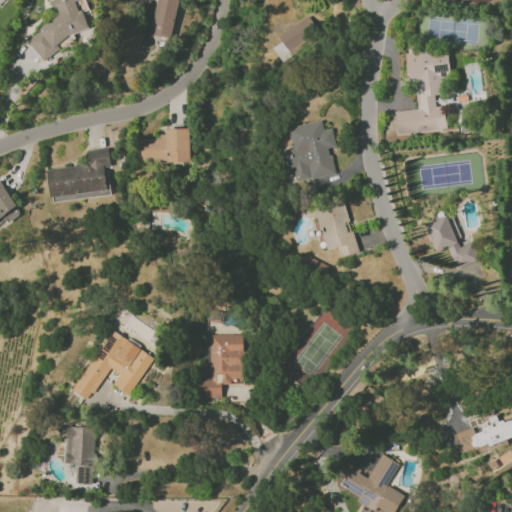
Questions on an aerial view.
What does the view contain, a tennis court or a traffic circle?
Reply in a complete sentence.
There is a tennis court in the scene.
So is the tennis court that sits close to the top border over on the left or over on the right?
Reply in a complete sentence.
The tennis court that sits close to the top border is on the right side of the image.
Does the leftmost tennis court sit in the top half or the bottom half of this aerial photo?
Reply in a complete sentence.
It is in the bottom half that the leftmost tennis court appears.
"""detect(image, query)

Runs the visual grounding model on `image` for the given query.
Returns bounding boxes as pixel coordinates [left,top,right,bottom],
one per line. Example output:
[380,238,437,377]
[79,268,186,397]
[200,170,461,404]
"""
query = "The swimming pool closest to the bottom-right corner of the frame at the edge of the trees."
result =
[400,462,416,487]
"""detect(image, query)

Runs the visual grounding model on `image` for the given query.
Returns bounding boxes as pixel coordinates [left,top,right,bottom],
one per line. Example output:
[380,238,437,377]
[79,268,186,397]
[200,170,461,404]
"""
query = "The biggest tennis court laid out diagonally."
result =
[292,312,350,383]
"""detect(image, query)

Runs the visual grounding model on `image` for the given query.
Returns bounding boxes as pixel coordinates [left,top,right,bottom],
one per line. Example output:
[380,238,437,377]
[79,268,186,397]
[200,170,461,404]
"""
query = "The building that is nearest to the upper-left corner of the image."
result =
[28,0,90,58]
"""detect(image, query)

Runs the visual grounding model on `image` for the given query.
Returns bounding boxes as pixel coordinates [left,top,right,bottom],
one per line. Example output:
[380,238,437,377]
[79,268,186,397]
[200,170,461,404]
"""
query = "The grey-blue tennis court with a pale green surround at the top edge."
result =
[420,15,490,50]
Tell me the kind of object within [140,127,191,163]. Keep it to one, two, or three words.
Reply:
house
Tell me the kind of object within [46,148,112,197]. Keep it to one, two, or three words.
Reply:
house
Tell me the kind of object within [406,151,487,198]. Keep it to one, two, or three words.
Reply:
tennis court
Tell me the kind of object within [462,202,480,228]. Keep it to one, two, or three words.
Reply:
swimming pool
